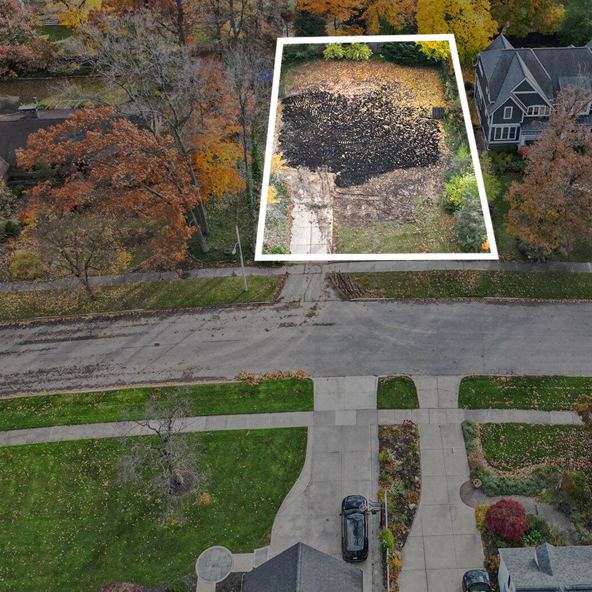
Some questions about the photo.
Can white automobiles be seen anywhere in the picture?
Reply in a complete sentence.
No, I can see no white automobile in this picture.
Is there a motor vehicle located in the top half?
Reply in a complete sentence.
No, I see no motor vehicle in the top half.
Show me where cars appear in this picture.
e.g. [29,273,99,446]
[341,496,370,564]
[463,559,496,592]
